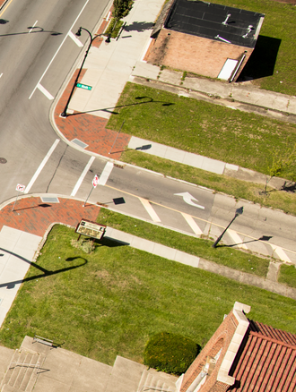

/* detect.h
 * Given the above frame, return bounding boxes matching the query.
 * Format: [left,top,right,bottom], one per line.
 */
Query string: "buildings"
[146,2,260,81]
[175,301,296,392]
